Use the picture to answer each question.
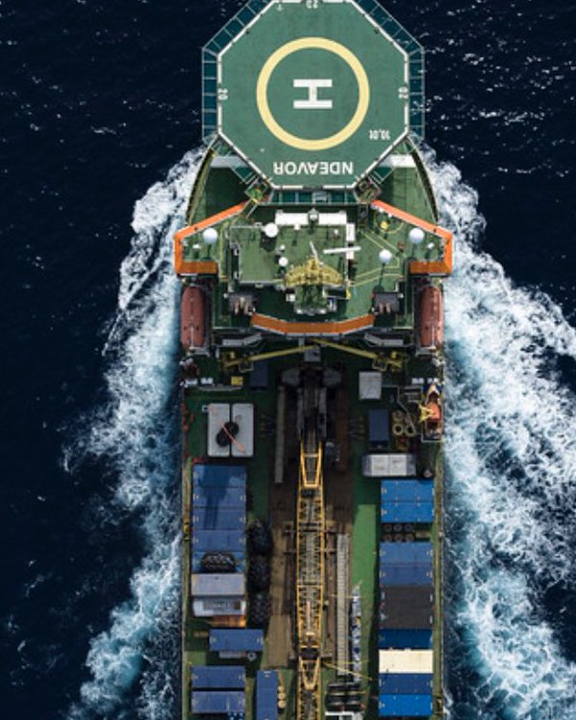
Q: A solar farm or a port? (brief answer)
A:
port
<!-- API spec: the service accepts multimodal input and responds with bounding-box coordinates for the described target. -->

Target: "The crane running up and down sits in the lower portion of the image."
[282,368,341,720]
